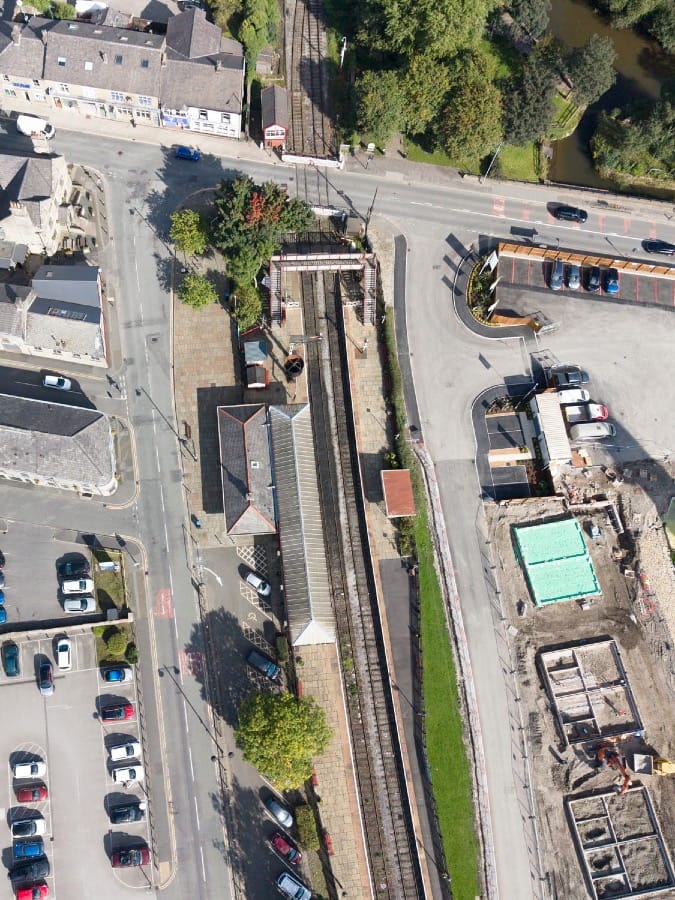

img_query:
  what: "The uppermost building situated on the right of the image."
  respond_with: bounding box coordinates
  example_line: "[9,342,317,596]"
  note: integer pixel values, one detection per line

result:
[526,393,570,469]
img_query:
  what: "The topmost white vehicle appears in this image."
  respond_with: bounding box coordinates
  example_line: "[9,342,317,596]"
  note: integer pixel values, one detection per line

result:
[16,113,54,138]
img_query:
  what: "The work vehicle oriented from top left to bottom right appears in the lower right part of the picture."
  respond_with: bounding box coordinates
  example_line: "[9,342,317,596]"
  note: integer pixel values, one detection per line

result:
[588,740,633,794]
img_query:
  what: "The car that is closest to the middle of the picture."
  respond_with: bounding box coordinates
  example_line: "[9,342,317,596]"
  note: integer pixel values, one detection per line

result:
[244,569,274,599]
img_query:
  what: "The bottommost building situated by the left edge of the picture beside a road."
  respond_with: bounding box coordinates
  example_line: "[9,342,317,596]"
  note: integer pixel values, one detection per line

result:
[0,396,119,505]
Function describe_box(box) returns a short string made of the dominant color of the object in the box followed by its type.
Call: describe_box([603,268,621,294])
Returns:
blue car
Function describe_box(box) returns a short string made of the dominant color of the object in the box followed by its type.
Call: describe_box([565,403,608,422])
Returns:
white vehicle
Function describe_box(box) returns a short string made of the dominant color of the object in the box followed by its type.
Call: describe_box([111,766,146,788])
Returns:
white car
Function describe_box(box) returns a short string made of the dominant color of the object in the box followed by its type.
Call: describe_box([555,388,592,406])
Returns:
white car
